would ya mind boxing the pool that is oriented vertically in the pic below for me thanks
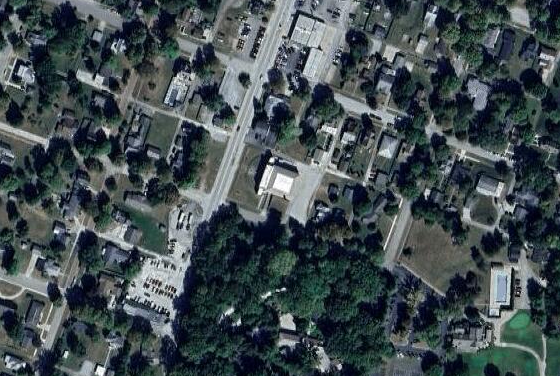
[491,263,514,310]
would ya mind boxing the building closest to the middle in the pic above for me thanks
[257,158,299,197]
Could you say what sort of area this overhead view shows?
residential area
